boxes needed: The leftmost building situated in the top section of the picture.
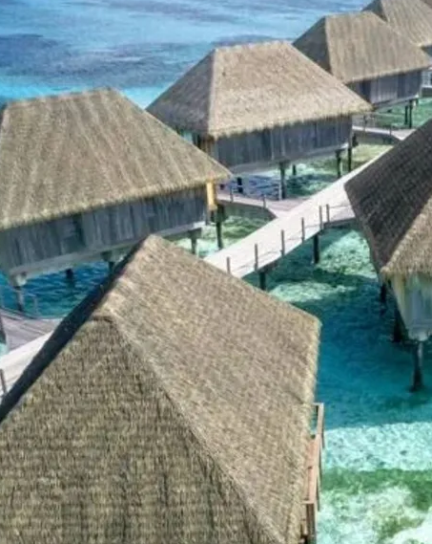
[0,86,229,329]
